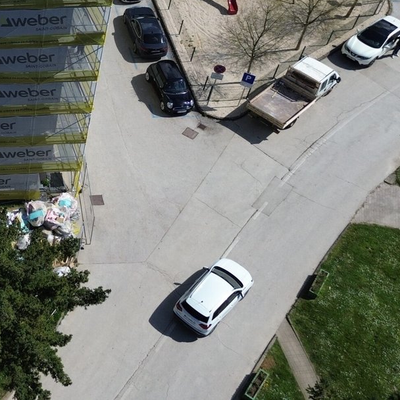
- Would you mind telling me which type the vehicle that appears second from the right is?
truck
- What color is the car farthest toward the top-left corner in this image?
black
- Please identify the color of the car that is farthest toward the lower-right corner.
white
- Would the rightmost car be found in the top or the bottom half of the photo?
top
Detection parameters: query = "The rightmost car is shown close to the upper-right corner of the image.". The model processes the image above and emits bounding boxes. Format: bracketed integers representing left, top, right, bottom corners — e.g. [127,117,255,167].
[347,13,400,67]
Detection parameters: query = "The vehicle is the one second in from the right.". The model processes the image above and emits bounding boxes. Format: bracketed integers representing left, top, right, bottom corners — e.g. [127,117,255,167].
[256,52,347,131]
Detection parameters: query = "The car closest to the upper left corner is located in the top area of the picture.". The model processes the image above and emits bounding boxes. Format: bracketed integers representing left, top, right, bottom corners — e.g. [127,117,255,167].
[124,3,171,57]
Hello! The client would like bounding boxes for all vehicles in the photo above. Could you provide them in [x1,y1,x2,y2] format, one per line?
[347,13,400,67]
[146,57,194,111]
[256,52,347,131]
[174,252,259,336]
[124,3,171,57]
